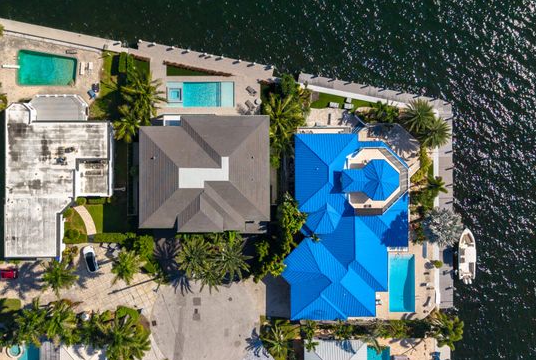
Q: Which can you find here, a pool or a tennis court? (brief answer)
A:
pool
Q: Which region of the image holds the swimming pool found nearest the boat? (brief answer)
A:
bottom right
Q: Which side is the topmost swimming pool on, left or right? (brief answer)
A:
left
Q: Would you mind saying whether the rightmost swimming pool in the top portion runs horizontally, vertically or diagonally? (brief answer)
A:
horizontally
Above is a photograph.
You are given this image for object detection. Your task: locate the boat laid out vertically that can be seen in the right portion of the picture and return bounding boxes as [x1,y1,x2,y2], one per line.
[455,227,477,285]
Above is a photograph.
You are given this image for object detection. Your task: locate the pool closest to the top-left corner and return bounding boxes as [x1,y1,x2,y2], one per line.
[17,49,79,87]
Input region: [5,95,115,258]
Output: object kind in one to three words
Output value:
house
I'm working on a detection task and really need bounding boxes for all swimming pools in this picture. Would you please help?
[387,252,416,314]
[369,345,392,360]
[166,81,235,108]
[17,49,79,87]
[21,339,40,360]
